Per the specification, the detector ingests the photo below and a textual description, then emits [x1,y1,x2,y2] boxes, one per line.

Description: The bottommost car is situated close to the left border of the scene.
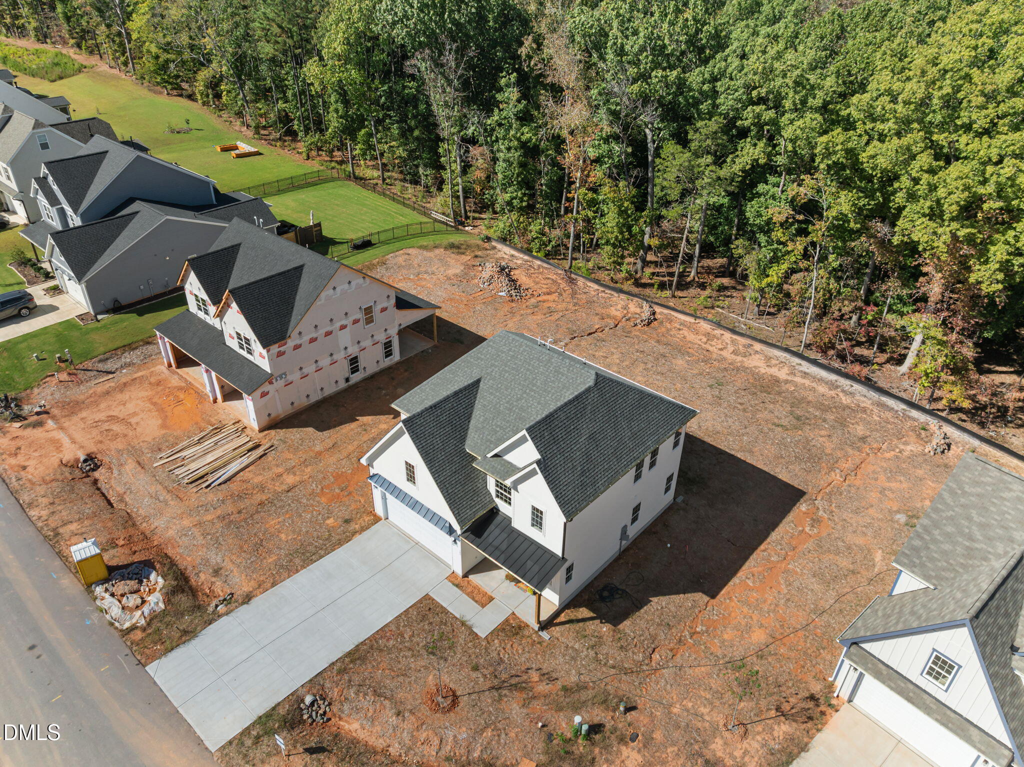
[0,289,37,320]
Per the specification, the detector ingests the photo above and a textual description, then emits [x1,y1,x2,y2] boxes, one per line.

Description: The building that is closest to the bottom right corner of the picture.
[827,451,1024,767]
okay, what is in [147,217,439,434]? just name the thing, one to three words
house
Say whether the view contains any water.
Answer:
No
